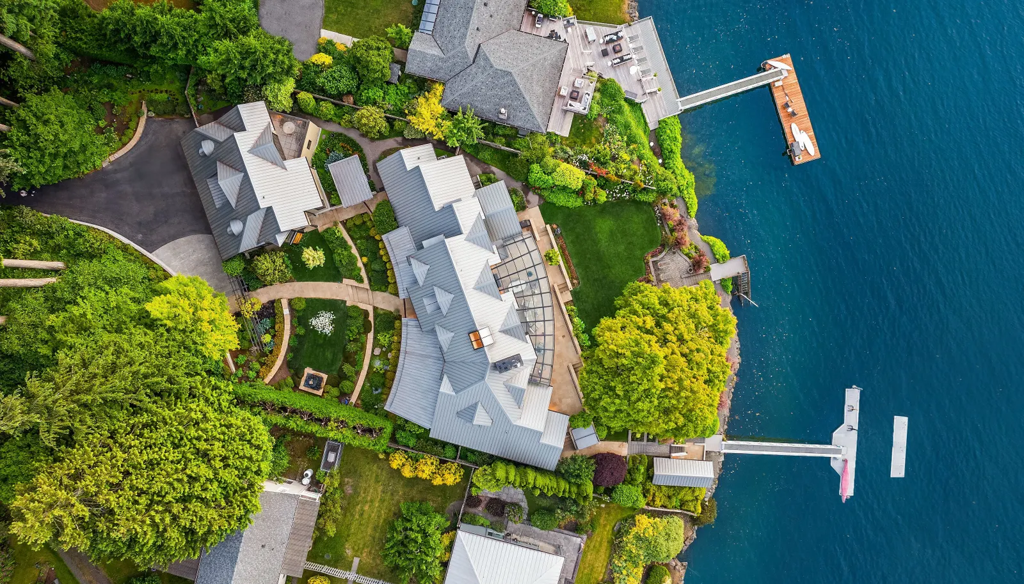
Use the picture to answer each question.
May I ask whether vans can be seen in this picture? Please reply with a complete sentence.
No, no van is visible in the view.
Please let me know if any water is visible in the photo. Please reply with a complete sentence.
Yes, the picture does contain water.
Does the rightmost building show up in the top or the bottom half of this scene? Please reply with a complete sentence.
Seen from above, the rightmost building lies in the bottom half of the view.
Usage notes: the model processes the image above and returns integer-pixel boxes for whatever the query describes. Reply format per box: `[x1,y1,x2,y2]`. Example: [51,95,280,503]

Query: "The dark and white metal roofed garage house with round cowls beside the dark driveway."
[180,101,335,261]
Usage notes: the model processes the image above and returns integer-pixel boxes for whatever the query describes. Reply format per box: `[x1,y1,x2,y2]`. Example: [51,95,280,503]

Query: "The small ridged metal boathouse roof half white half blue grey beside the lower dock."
[651,455,714,488]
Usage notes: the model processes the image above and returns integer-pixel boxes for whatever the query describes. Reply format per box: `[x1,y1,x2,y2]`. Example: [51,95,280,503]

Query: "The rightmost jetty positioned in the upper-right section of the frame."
[764,55,821,166]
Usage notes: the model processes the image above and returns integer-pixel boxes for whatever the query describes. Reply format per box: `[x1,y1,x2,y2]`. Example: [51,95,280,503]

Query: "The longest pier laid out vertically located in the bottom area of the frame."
[829,389,860,496]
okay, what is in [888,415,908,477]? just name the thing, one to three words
pier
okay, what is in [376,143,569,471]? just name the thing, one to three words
house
